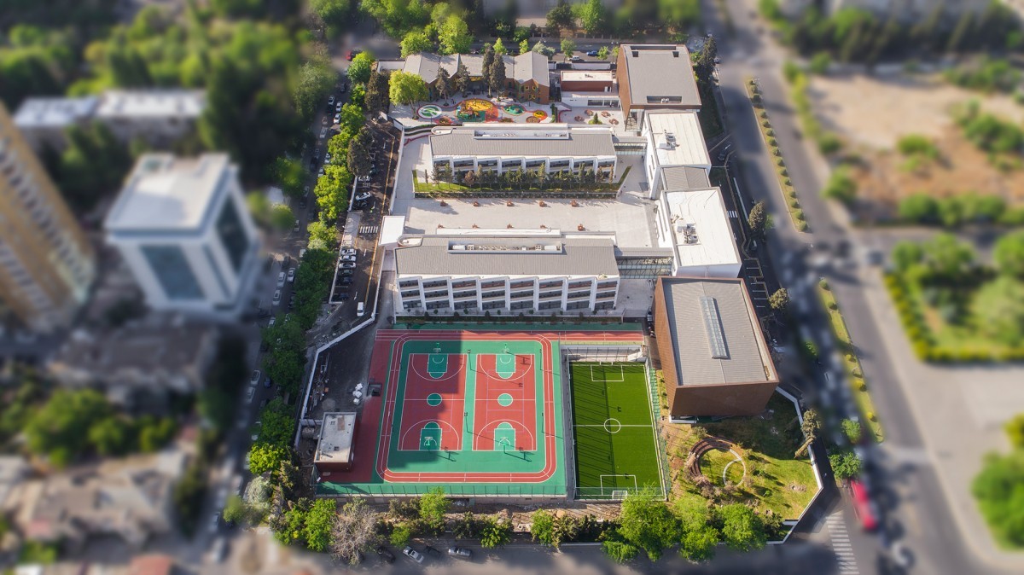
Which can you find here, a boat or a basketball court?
basketball court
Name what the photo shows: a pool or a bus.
bus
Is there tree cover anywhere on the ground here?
Yes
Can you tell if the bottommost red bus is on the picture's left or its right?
right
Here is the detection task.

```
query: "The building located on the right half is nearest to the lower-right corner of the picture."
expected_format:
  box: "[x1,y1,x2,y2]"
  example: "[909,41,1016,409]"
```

[651,278,780,423]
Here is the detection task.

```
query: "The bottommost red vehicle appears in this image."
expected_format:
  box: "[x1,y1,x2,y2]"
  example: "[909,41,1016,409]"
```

[847,474,880,529]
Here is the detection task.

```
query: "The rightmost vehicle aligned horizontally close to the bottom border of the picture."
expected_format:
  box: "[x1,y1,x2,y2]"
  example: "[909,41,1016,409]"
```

[447,544,471,556]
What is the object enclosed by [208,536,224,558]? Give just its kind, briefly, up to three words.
car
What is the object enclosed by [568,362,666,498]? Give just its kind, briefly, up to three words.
soccer field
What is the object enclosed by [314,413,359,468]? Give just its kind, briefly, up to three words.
building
